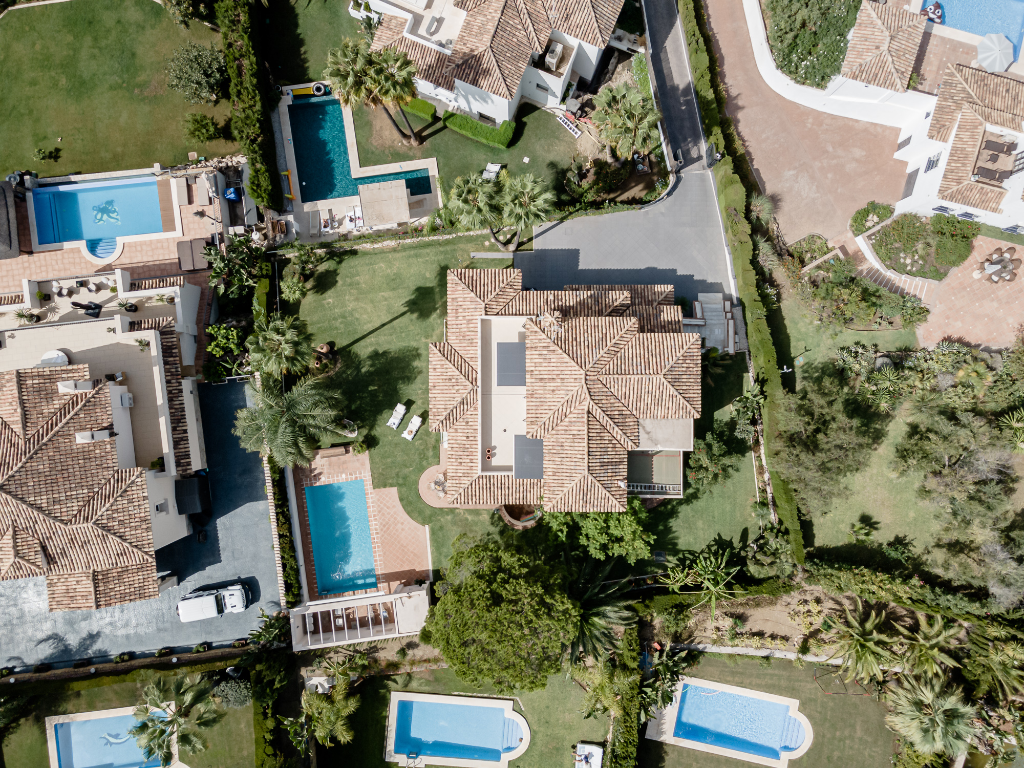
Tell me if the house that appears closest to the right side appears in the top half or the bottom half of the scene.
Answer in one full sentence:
The house that appears closest to the right side is in the top half of the image.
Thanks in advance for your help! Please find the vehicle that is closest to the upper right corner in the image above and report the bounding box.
[562,93,593,122]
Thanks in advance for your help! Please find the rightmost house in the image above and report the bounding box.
[808,0,1024,246]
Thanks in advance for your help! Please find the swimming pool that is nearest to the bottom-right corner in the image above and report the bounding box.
[646,675,813,768]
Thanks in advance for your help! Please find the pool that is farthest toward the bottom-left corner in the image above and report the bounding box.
[45,706,190,768]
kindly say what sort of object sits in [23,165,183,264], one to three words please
swimming pool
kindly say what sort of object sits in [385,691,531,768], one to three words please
swimming pool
